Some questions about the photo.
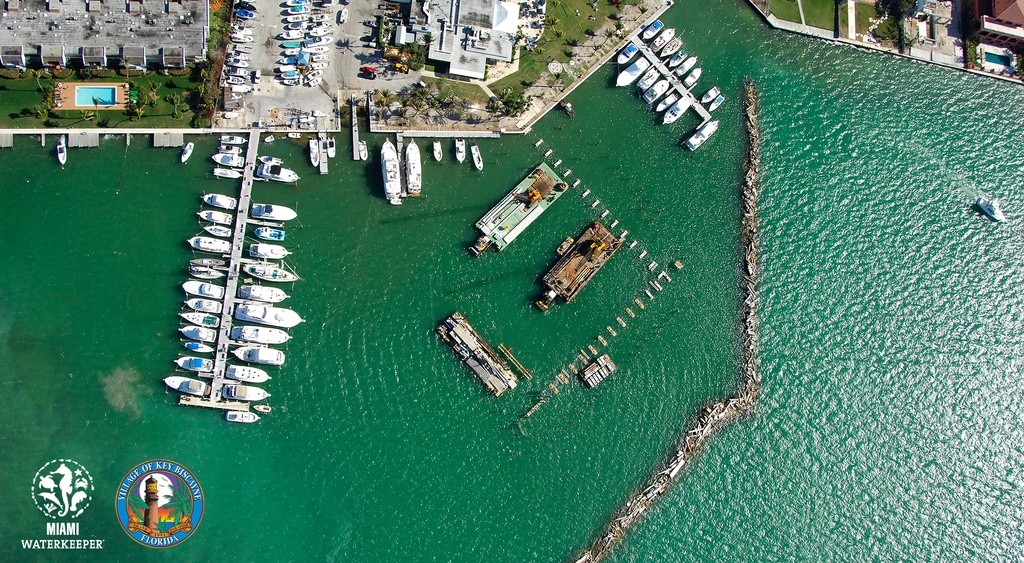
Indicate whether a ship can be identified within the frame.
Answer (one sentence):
Yes, a ship appears in the view.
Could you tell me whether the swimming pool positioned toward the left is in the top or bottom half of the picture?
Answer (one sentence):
The swimming pool positioned toward the left is in the top half of the image.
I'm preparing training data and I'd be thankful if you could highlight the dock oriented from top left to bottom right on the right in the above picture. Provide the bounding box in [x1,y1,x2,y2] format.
[630,32,712,130]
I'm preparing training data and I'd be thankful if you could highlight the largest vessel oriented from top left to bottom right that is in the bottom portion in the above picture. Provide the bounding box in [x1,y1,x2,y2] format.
[436,312,518,398]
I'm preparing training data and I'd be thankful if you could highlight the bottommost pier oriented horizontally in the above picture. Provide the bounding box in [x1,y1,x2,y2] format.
[178,397,250,411]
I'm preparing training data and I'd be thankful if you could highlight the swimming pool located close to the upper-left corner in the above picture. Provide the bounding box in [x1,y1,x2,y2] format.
[55,83,129,110]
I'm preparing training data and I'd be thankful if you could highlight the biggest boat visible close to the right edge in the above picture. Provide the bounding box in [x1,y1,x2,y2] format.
[973,196,1005,221]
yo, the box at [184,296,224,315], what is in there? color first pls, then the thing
white boat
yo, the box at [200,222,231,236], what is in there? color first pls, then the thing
white boat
